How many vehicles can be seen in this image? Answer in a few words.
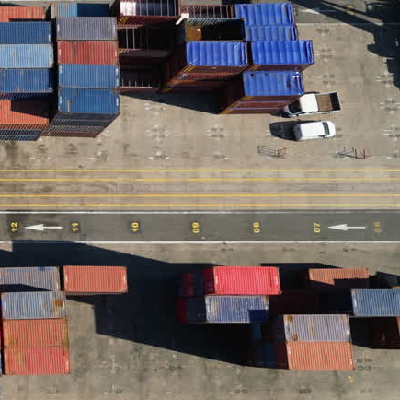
two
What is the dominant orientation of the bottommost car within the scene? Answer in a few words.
from left to right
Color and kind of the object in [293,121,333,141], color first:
white car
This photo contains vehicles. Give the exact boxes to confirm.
[293,121,333,141]
[283,92,341,118]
